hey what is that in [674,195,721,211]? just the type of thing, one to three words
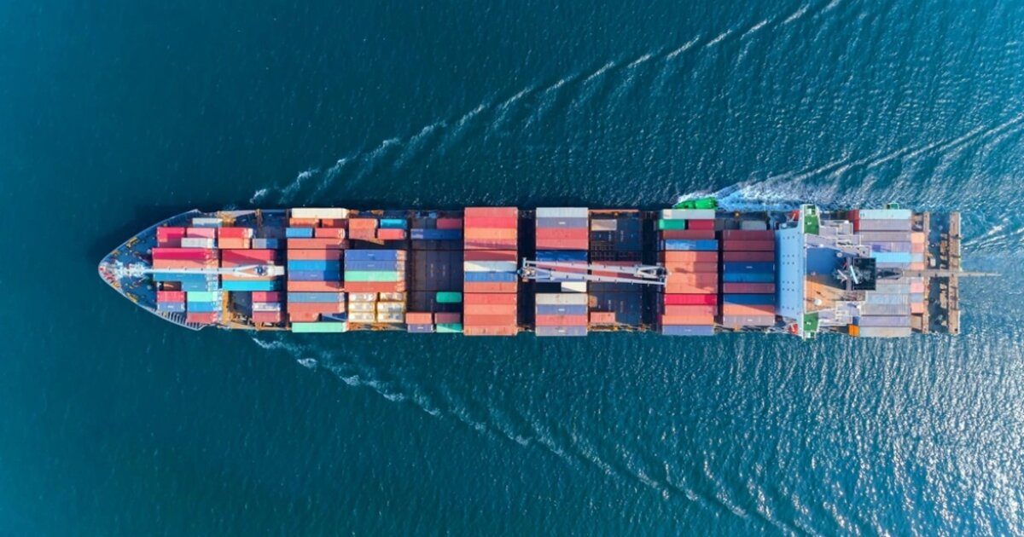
boat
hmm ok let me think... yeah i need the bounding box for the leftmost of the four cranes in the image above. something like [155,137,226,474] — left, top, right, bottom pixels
[145,262,288,278]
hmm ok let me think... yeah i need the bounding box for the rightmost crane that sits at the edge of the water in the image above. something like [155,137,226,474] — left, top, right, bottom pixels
[875,266,999,281]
